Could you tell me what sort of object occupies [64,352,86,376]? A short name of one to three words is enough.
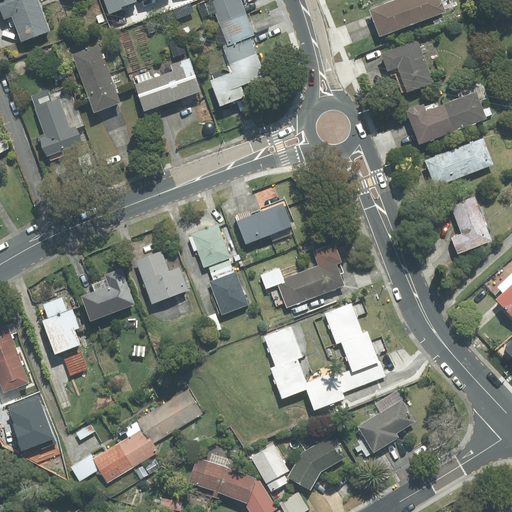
shed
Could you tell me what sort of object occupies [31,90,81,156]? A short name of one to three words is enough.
house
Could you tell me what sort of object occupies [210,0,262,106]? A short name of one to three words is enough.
building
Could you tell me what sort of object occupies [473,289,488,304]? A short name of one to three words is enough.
car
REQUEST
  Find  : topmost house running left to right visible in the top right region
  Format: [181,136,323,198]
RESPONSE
[370,0,445,36]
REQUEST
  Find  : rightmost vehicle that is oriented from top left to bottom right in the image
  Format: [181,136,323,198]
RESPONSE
[488,372,502,388]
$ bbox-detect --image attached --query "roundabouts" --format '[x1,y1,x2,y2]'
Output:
[316,110,351,145]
